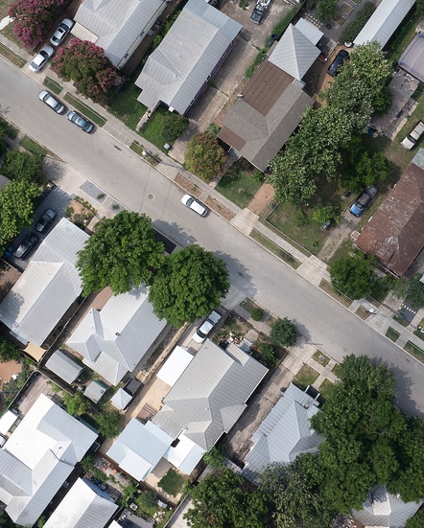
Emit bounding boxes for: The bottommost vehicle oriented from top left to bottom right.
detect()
[181,193,209,217]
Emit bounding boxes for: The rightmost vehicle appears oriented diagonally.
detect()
[399,118,424,152]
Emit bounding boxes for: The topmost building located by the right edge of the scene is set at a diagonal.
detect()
[354,0,412,48]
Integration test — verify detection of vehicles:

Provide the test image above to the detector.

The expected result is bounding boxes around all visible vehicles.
[181,193,209,217]
[324,51,349,82]
[39,92,67,115]
[66,110,96,134]
[251,0,271,28]
[399,118,424,152]
[34,206,60,235]
[350,182,380,219]
[49,18,75,45]
[29,45,55,73]
[0,434,9,450]
[192,311,223,343]
[13,231,40,261]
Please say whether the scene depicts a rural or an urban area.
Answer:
urban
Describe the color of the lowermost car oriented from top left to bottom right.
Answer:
white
